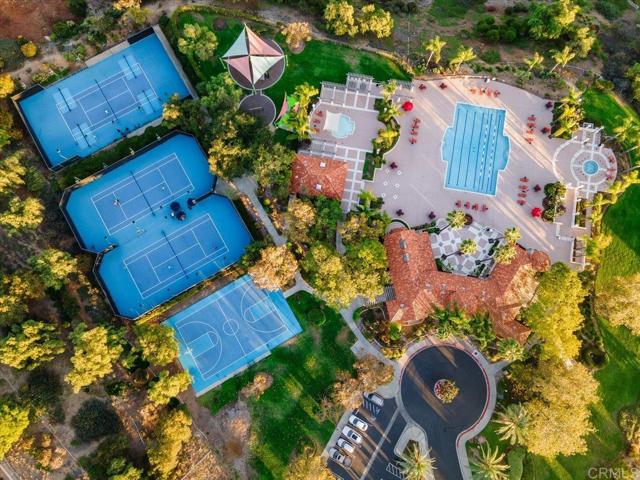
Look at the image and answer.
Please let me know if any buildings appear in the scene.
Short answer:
Yes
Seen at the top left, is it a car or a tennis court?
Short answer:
tennis court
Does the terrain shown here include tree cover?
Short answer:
Yes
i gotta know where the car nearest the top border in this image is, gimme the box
[363,391,384,408]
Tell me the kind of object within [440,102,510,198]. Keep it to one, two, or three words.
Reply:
swimming pool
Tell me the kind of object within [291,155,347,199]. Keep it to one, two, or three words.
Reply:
building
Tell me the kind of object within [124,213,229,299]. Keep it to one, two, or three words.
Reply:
tennis court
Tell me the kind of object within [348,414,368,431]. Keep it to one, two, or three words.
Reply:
car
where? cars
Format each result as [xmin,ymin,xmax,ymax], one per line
[336,437,355,452]
[328,448,349,465]
[348,414,368,431]
[363,391,384,408]
[342,426,362,442]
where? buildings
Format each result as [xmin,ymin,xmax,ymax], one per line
[382,216,551,344]
[291,155,347,199]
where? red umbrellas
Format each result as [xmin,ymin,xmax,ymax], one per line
[529,207,541,218]
[402,102,412,112]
